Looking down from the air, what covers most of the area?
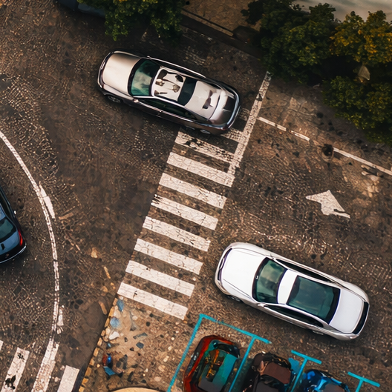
paved ground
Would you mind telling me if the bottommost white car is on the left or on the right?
right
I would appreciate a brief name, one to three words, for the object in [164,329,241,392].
car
